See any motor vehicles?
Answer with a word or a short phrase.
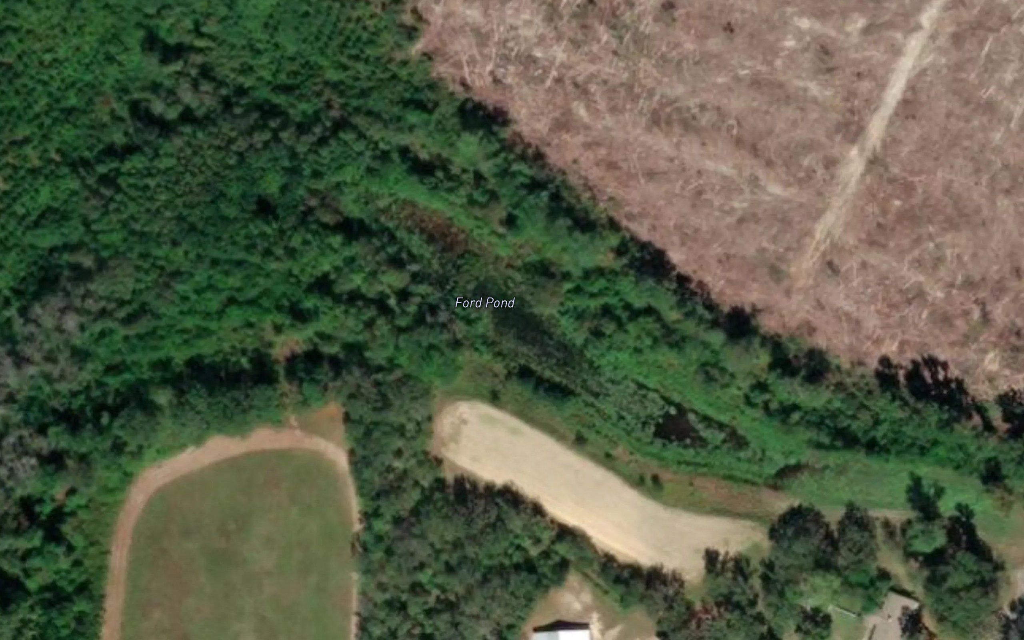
No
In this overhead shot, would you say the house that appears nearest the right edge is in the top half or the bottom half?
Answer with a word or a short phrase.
bottom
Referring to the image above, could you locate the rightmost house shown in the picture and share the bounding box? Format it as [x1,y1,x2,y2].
[874,592,919,640]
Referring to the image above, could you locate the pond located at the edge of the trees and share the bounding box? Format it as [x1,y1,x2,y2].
[481,288,744,450]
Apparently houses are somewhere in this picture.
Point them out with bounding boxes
[533,632,590,640]
[874,592,919,640]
